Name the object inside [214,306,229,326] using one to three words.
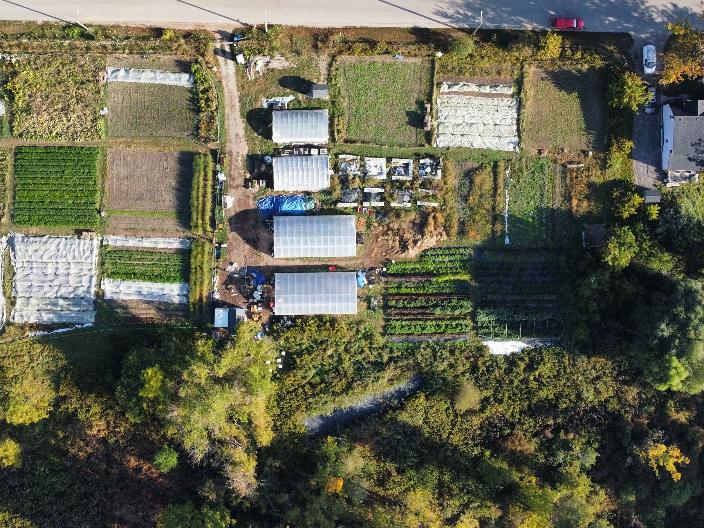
building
